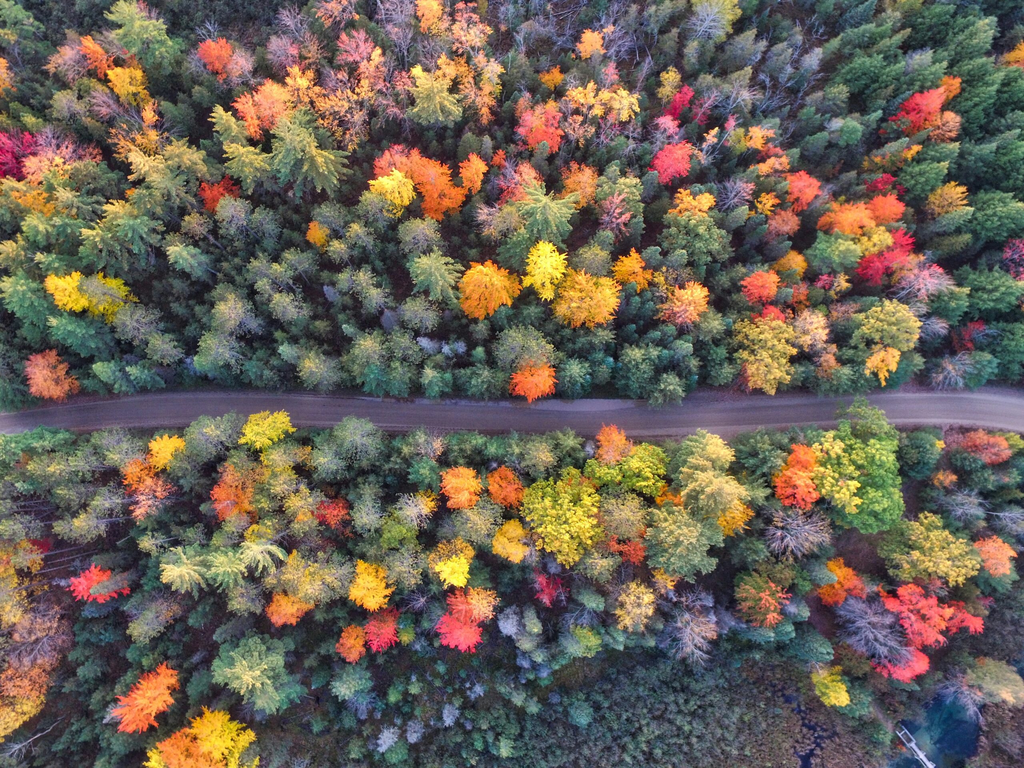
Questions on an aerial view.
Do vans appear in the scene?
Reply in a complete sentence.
No, the picture doesn't show any van.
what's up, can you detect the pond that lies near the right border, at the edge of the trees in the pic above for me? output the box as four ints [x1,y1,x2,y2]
[884,691,986,768]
